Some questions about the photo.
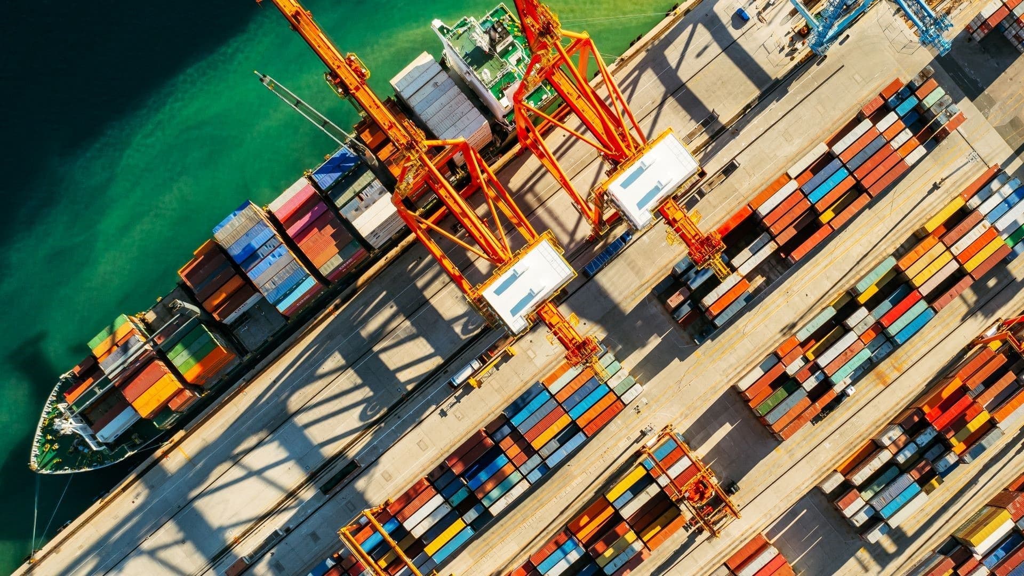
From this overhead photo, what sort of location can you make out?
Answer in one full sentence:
The picture captures a port.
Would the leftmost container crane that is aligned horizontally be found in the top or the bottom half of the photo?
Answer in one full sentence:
The leftmost container crane that is aligned horizontally is in the top half of the image.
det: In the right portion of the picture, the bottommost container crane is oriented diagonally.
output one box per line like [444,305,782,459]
[634,420,746,539]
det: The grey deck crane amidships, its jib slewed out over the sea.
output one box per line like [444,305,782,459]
[253,70,389,177]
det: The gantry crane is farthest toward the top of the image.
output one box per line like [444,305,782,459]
[765,0,985,84]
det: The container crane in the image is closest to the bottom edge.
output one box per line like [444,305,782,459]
[338,501,442,576]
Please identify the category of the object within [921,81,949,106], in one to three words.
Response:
shipping container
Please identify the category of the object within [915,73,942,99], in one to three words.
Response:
shipping container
